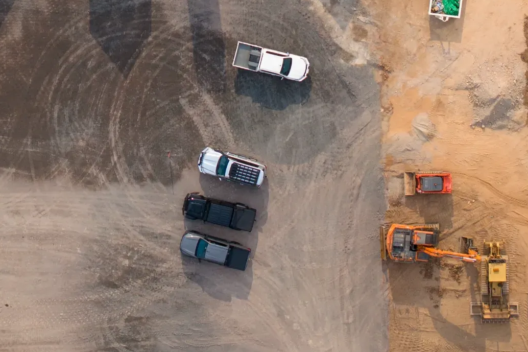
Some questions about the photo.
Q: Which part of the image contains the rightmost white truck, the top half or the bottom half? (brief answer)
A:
top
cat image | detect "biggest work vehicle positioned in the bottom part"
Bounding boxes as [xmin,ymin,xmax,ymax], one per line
[381,223,483,263]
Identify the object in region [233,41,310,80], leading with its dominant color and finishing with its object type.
white truck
